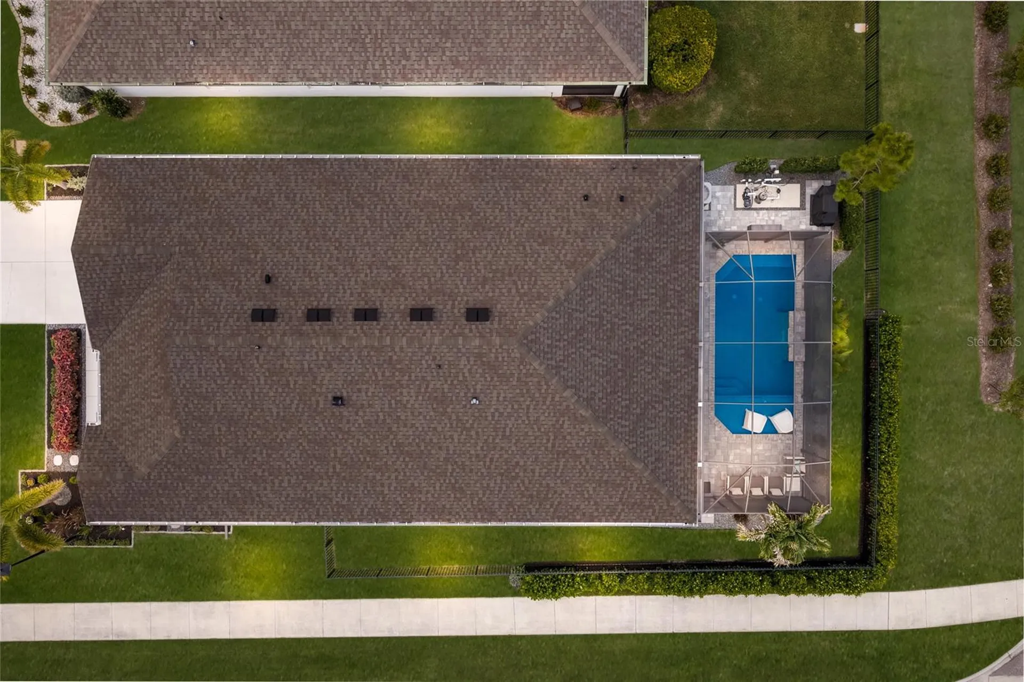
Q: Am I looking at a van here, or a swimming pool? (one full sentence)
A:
Looking from above, you can make out a swimming pool.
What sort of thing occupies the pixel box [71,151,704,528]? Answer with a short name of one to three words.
house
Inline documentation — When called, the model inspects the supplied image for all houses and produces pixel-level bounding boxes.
[44,0,651,99]
[71,151,704,528]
